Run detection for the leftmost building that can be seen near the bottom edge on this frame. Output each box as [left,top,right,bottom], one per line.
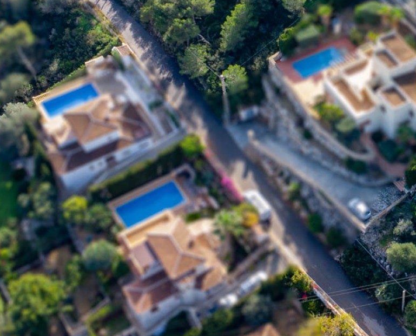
[119,211,232,331]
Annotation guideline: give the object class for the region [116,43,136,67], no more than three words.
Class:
shed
